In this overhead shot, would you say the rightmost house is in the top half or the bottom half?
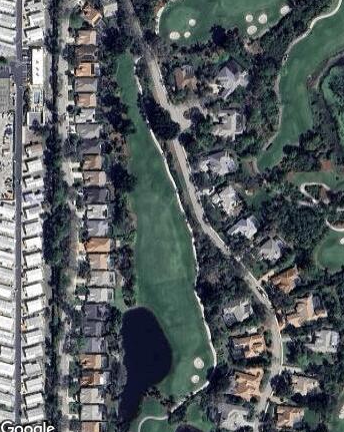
bottom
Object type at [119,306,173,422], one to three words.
pond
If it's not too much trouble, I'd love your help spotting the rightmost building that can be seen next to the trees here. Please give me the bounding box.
[311,331,339,352]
